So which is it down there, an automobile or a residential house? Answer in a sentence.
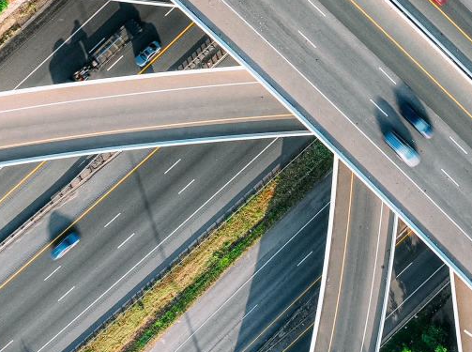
Looking from above, you can make out an automobile.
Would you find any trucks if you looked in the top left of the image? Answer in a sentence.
Yes, a truck can be seen in the top left of the image.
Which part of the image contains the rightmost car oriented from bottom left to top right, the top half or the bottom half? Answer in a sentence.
The rightmost car oriented from bottom left to top right sits in the top half of the picture.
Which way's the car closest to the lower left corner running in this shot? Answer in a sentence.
The car closest to the lower left corner runs at an angle in the image.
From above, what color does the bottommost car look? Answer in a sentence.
The bottommost car looks blue in the image.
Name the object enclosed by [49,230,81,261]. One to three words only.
car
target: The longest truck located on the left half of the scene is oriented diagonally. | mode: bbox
[61,8,161,85]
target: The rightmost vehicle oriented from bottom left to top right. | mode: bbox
[133,38,166,68]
